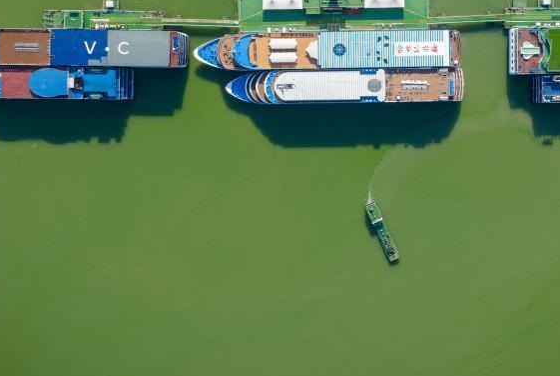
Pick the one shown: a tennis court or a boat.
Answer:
boat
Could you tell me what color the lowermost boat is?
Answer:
green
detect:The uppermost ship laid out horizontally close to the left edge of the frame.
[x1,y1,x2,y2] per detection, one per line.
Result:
[0,30,191,68]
